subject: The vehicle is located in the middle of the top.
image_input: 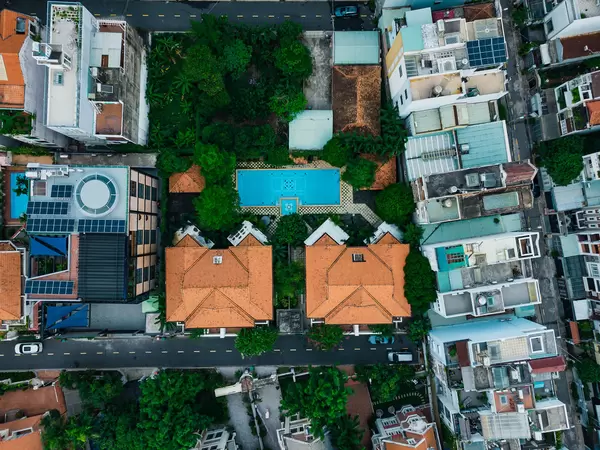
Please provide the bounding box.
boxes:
[333,4,359,18]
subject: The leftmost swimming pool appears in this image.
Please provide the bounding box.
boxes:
[8,172,27,224]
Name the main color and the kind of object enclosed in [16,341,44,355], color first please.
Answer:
white car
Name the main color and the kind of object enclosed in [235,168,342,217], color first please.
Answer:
blue swimming pool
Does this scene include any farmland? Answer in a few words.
No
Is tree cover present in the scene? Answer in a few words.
Yes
